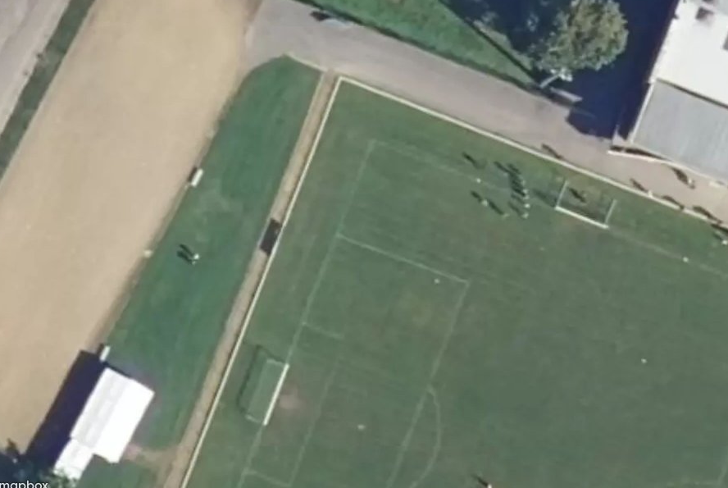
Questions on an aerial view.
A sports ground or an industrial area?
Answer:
sports ground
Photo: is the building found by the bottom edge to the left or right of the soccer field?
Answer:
left of it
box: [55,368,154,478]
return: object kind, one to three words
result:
building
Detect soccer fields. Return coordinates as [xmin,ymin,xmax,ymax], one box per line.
[185,82,728,488]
